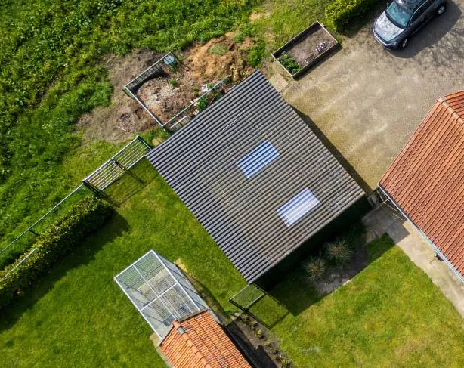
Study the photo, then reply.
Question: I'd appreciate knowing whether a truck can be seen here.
No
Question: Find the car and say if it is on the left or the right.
right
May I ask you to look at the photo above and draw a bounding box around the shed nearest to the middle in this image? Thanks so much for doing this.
[146,66,368,288]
